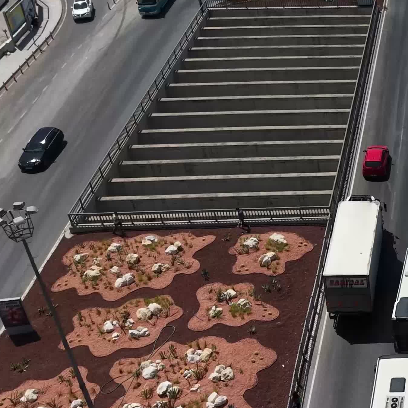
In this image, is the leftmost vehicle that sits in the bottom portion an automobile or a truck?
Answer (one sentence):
I'd identify the leftmost vehicle that sits in the bottom portion as a truck.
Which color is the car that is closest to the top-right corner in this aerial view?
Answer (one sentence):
The color of the car that is closest to the top-right corner is red.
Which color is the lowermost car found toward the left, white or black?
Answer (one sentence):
The color of the lowermost car found toward the left is black.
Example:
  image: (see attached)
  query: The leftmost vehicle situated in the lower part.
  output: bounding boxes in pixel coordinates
[324,198,389,323]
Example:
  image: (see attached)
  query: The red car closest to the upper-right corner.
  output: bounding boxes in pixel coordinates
[364,145,391,177]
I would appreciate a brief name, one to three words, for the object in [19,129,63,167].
car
